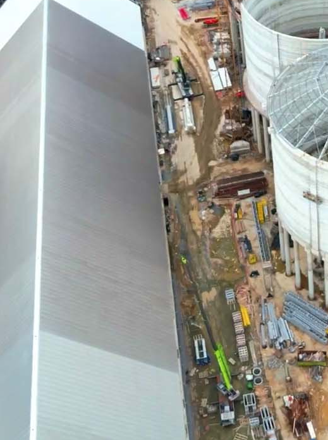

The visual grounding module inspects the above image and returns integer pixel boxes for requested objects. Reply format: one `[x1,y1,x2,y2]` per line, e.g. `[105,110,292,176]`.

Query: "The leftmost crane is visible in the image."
[167,52,205,98]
